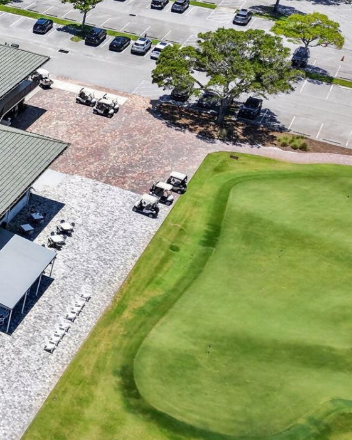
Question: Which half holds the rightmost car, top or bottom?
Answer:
top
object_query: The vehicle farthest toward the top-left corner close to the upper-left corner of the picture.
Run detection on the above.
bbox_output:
[29,15,54,34]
